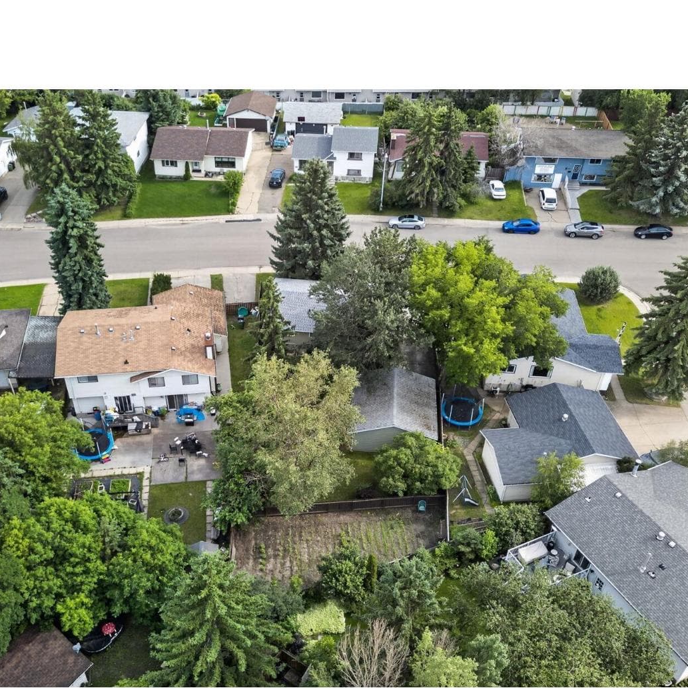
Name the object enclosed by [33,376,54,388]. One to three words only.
vehicle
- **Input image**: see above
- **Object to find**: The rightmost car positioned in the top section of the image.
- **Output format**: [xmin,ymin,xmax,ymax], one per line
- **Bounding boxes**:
[634,224,677,240]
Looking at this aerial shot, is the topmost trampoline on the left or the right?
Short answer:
right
